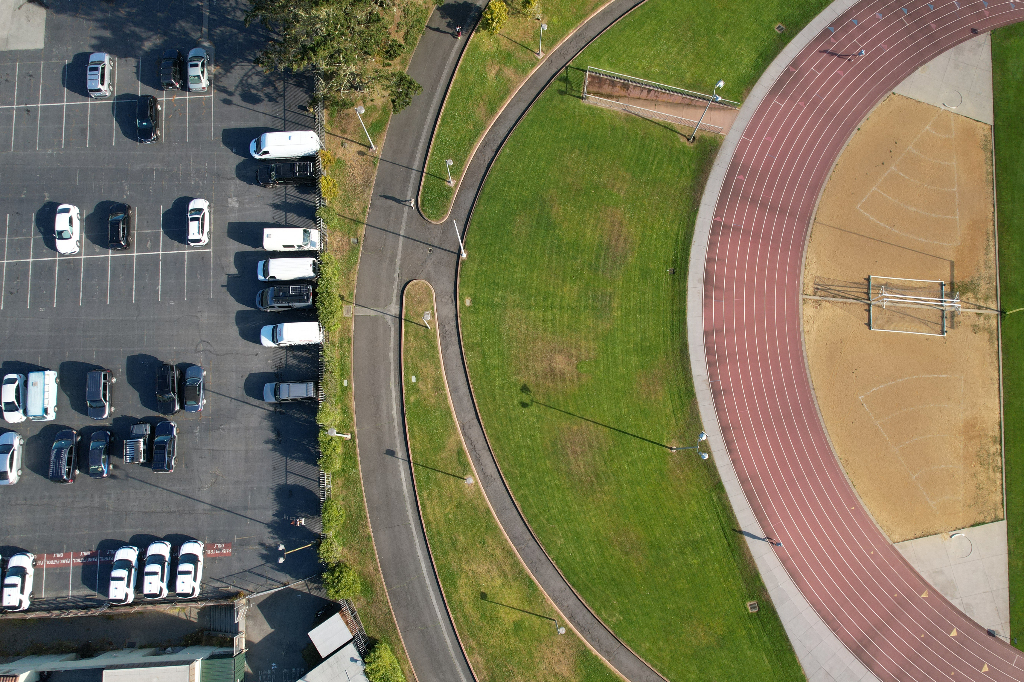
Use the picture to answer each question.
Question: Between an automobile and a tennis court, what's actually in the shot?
automobile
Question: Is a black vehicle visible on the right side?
No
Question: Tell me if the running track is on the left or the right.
right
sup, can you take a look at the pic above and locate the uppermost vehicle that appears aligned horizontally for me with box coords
[251,129,326,159]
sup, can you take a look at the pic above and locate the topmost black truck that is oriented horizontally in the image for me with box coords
[257,161,320,186]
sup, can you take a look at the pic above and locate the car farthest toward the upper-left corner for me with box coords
[86,52,112,100]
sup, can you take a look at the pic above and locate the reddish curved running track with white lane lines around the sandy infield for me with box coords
[703,0,1024,682]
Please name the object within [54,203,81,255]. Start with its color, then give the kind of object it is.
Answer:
white car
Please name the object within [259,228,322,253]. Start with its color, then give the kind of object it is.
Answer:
white vehicle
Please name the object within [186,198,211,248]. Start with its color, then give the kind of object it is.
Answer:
white car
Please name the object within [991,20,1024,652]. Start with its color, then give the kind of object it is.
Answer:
green sports field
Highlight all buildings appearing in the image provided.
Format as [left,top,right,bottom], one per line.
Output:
[309,608,358,658]
[300,638,379,682]
[0,641,240,682]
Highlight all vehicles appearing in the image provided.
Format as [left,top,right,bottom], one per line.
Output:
[86,370,114,420]
[251,129,326,159]
[0,432,26,486]
[257,285,316,310]
[26,371,59,421]
[108,545,143,605]
[1,551,40,611]
[175,539,208,599]
[187,48,210,94]
[142,540,176,600]
[259,228,322,253]
[262,322,327,346]
[151,421,180,474]
[183,365,208,413]
[106,203,133,252]
[86,52,112,100]
[160,49,184,92]
[257,161,320,186]
[258,258,319,282]
[123,424,154,467]
[47,429,81,484]
[186,198,211,248]
[134,94,161,145]
[264,379,317,403]
[0,373,28,424]
[154,364,182,415]
[54,203,81,255]
[88,430,115,479]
